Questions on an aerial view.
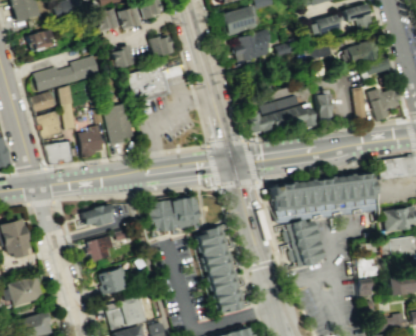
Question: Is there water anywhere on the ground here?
No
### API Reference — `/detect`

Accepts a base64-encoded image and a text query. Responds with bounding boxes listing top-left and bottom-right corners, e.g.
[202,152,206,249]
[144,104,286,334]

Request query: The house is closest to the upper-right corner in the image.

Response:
[344,2,372,30]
